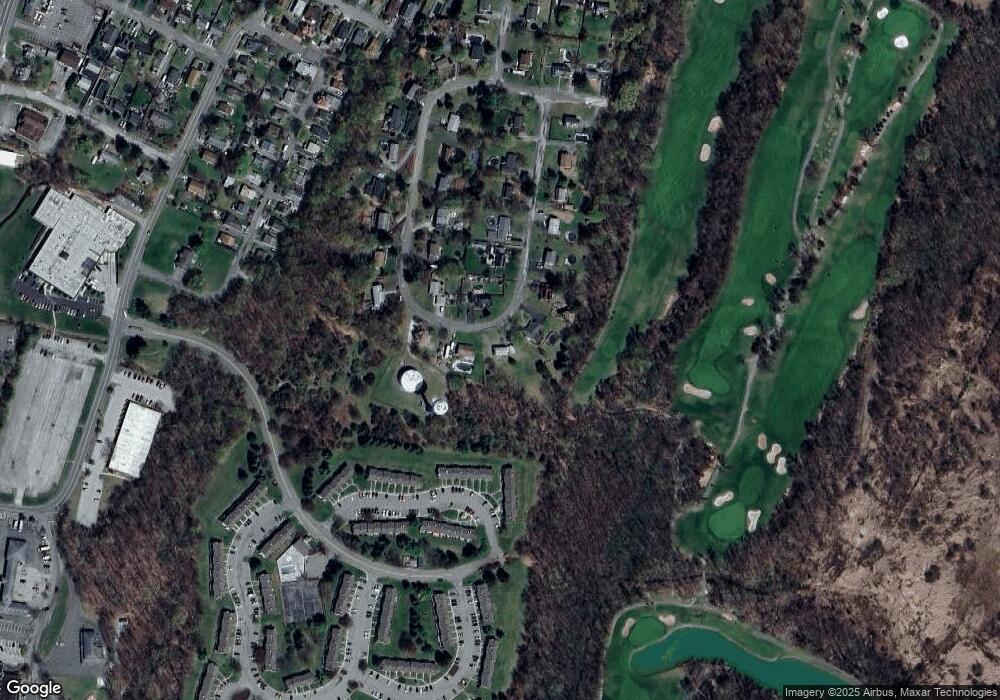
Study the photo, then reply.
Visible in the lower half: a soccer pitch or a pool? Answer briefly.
pool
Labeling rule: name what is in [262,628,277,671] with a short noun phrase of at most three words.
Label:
building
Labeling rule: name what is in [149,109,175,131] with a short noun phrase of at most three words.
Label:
house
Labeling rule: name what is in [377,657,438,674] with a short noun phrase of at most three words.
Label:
building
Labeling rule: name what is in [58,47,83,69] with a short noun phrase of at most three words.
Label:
house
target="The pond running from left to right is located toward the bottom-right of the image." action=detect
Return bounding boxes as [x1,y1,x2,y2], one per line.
[630,627,864,700]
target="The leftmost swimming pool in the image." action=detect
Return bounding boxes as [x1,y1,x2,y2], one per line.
[277,547,330,582]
